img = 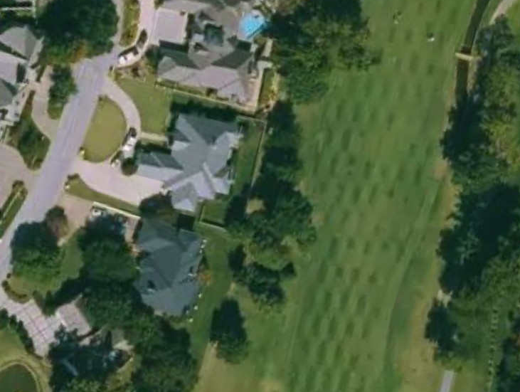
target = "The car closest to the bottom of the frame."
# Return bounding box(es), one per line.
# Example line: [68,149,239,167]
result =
[89,207,109,219]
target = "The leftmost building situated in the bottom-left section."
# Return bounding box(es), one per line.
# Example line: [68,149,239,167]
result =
[57,302,92,341]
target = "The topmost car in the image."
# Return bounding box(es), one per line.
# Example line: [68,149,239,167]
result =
[136,27,149,47]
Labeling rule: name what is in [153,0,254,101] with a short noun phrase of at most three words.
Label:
house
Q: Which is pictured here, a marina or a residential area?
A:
residential area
